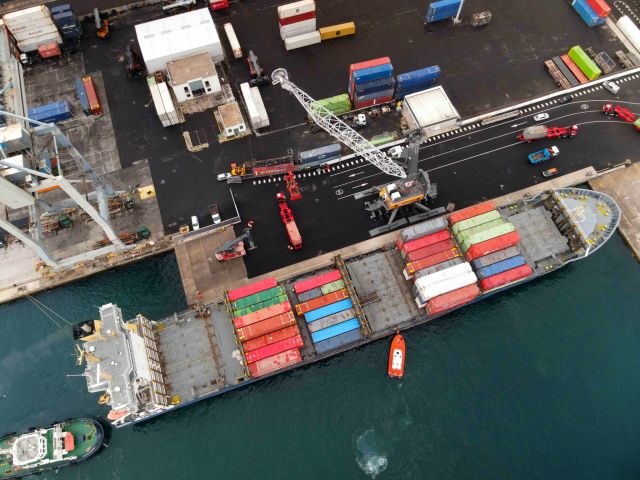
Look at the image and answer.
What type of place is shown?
port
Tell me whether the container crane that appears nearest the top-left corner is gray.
Yes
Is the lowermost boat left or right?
left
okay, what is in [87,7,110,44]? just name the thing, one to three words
work vehicle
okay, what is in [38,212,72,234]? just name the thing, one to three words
truck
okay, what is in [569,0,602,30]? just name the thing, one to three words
shipping container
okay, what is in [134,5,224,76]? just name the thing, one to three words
building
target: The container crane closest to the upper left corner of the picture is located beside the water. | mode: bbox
[0,106,137,274]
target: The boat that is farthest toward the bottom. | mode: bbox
[0,412,106,480]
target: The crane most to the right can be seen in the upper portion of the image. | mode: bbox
[268,63,446,238]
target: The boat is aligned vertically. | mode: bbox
[390,333,406,381]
